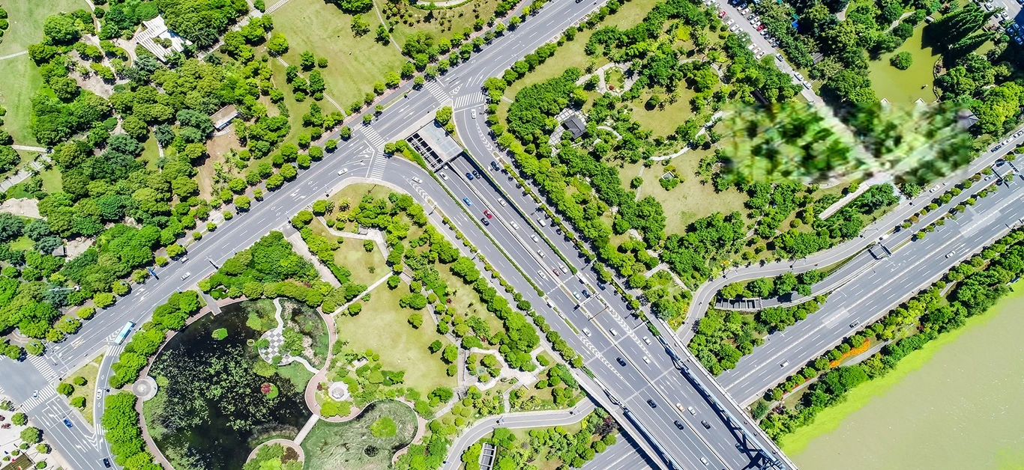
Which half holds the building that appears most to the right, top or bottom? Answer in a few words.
top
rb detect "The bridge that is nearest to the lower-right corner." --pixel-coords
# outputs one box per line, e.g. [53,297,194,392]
[443,158,799,470]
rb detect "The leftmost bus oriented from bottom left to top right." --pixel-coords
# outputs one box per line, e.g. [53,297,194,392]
[113,321,133,345]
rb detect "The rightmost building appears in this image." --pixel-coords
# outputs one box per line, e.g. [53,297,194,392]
[955,108,983,130]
